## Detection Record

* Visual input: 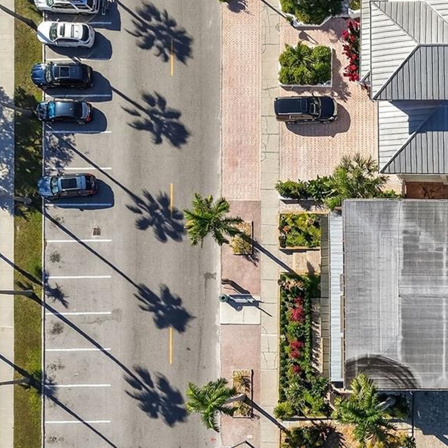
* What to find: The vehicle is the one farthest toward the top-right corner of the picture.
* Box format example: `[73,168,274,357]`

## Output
[272,94,337,125]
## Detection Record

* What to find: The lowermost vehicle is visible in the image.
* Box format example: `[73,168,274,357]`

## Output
[37,171,100,200]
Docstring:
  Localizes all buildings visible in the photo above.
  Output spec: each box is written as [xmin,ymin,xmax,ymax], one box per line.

[360,0,448,188]
[318,197,448,393]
